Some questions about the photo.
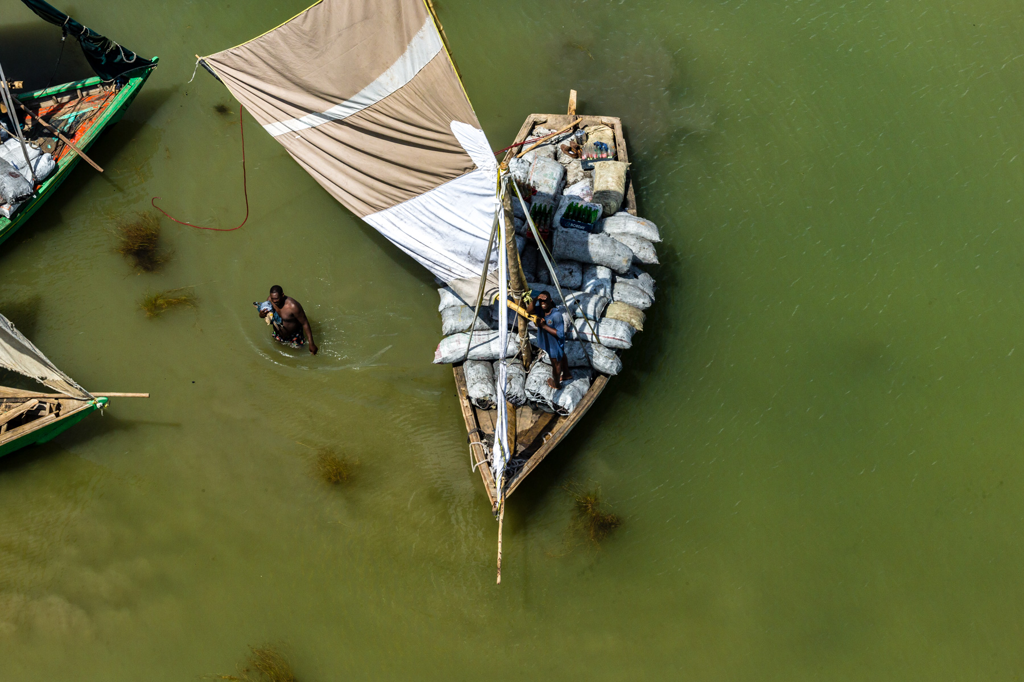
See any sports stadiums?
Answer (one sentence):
No, no sports stadium can be seen from above.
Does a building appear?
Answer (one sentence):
No, there appears to be no building in this shot.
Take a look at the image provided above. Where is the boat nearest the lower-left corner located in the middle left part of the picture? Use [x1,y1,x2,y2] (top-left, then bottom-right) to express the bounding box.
[0,313,149,474]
